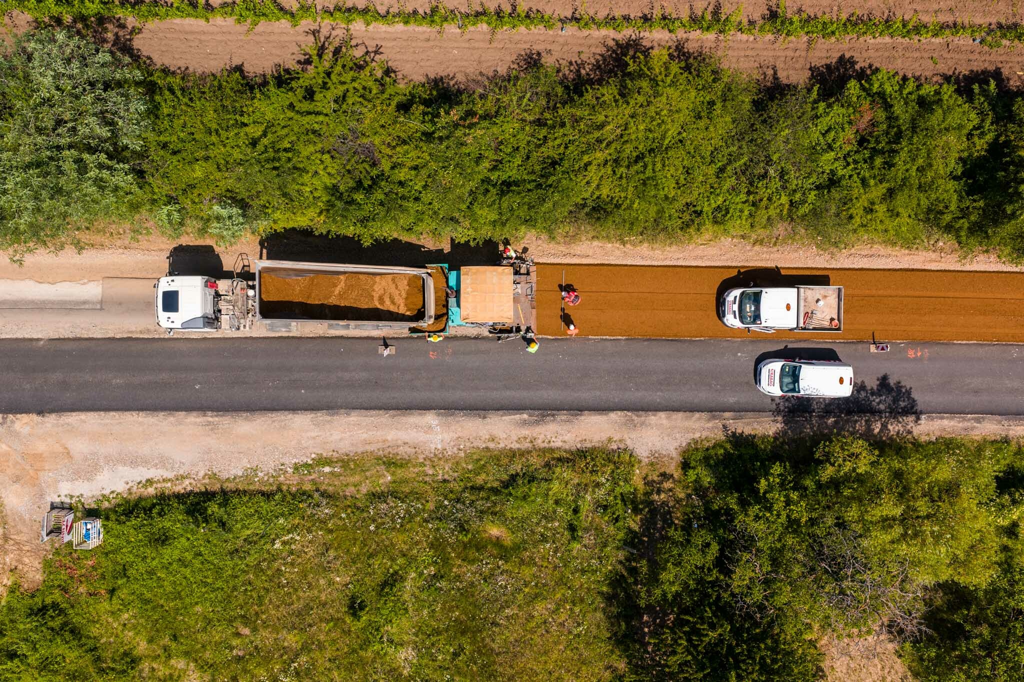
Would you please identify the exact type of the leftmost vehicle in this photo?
truck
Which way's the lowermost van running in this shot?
from left to right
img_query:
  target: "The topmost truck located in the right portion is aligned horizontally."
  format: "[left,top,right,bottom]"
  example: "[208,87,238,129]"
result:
[719,282,844,336]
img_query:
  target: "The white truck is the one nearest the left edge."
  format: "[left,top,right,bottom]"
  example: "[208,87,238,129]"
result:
[156,253,260,334]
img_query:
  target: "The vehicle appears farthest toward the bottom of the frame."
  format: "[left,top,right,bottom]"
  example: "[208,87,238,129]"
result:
[756,356,852,401]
